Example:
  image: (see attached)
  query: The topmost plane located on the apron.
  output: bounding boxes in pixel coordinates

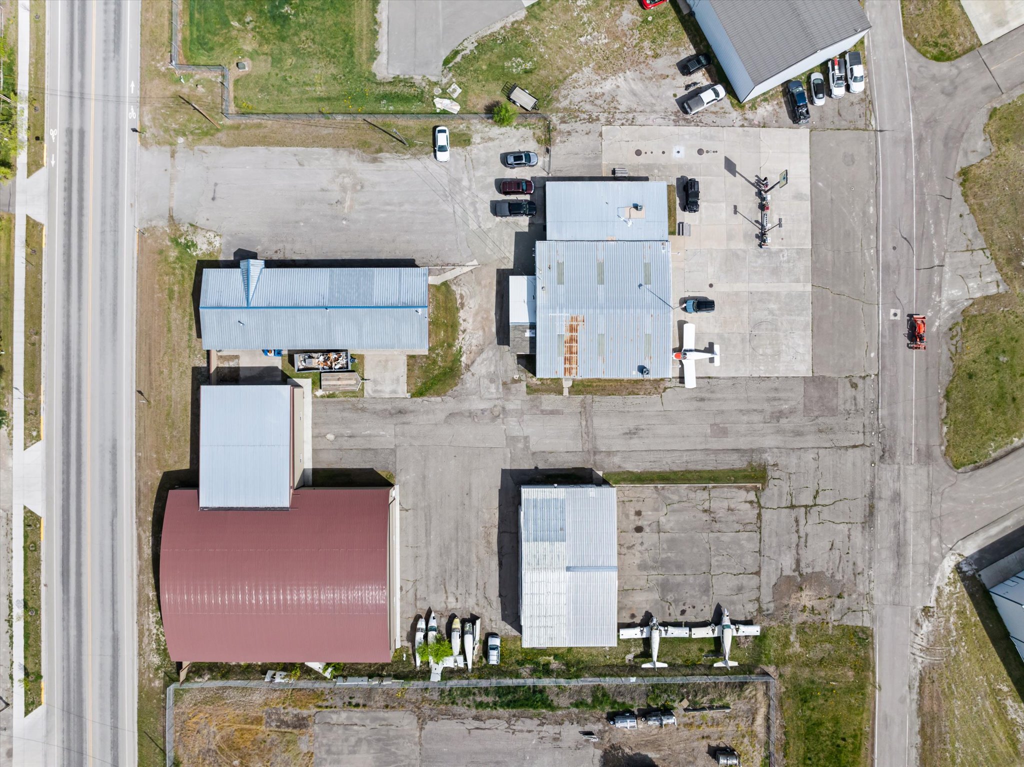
[674,323,725,389]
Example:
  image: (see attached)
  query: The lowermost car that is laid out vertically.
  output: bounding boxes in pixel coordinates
[486,634,502,666]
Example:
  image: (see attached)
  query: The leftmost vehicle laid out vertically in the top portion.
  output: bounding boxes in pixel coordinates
[434,127,450,163]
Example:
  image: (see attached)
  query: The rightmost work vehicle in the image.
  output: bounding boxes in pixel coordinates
[914,317,931,348]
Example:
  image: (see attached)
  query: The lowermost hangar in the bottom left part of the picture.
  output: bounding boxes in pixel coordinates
[160,486,396,662]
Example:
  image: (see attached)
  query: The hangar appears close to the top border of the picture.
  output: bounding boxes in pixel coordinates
[686,0,874,103]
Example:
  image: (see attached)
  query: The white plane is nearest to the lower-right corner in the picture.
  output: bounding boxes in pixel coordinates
[692,608,760,673]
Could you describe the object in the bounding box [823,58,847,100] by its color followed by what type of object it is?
white truck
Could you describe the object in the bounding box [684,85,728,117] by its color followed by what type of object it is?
white truck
